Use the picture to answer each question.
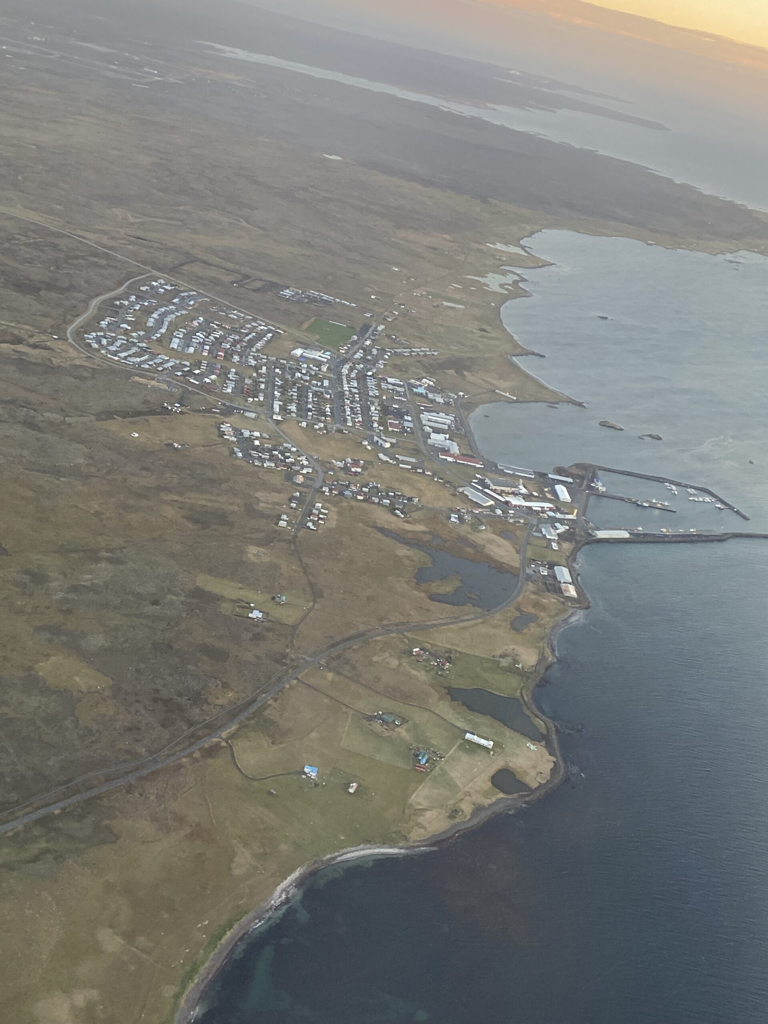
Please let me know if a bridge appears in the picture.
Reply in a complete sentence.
No, there is no bridge in the image.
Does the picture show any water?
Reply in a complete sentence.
Yes, water shows up in the scene.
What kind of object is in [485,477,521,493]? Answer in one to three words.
building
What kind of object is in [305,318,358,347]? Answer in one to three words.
soccer field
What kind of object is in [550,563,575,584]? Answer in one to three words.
building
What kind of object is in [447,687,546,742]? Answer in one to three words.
pond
